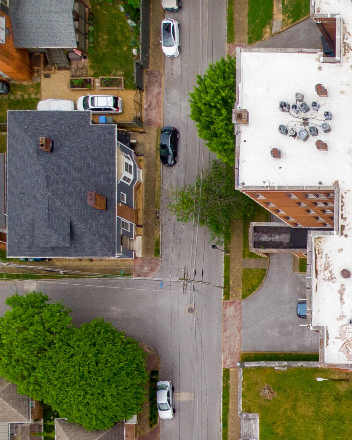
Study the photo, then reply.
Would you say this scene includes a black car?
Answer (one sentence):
Yes, a black car appears in the view.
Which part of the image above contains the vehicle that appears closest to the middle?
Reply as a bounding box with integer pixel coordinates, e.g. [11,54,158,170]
[159,125,180,168]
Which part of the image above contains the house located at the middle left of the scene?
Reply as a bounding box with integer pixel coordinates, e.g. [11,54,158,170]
[0,108,153,266]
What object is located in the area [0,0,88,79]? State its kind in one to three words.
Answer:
house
